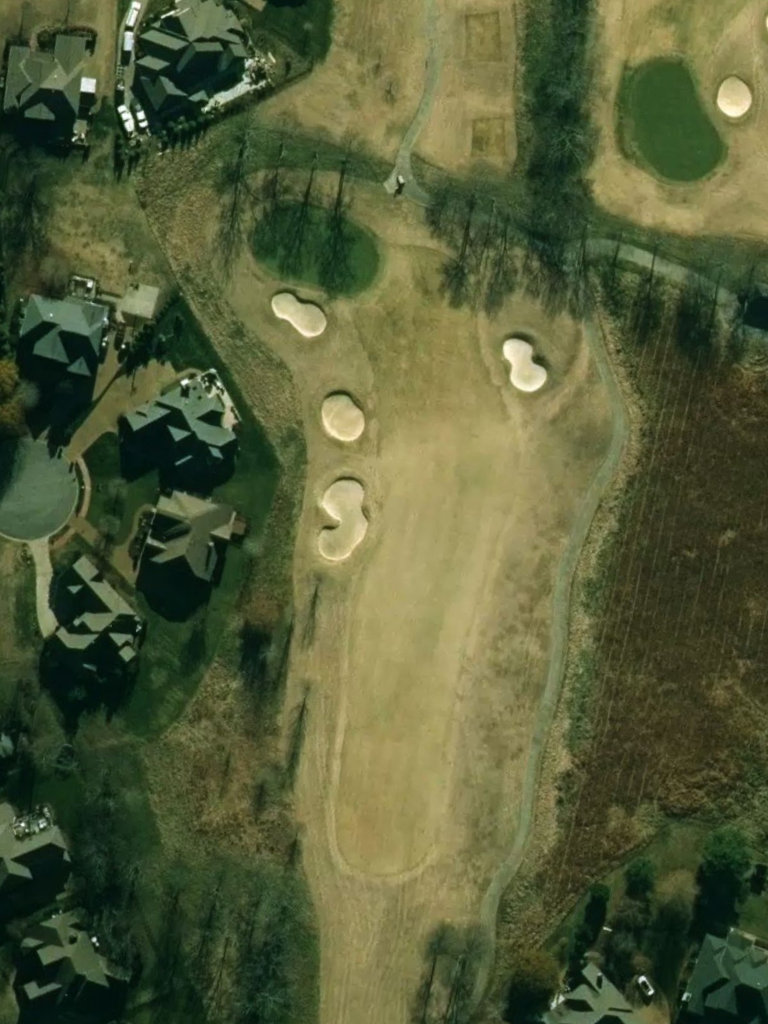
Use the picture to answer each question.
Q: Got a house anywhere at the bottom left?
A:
Yes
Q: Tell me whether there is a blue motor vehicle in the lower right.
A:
No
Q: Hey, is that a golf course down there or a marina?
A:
golf course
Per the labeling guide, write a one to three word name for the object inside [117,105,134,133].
vehicle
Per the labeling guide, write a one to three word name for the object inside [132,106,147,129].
car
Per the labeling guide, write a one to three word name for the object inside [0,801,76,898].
house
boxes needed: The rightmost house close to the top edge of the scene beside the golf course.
[130,0,249,115]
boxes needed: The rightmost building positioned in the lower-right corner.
[677,927,768,1020]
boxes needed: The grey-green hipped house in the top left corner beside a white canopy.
[0,35,87,122]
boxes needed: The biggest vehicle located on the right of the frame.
[636,974,654,997]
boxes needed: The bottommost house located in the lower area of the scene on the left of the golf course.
[20,904,130,1007]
